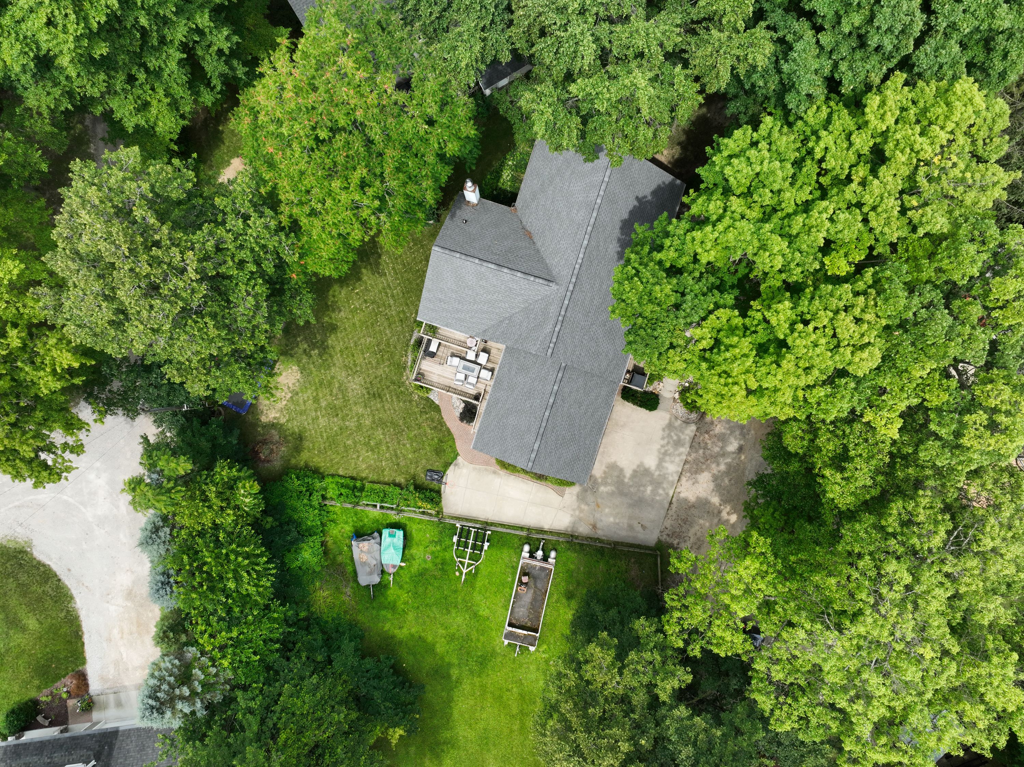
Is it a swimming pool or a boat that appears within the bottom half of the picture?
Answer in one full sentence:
Looking within the bottom half of the picture, you will find a boat.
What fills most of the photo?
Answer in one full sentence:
What you mostly see from above here is trees.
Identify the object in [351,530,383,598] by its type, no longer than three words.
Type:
boat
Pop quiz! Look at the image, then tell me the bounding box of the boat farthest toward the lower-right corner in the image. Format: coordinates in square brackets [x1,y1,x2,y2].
[502,542,556,656]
